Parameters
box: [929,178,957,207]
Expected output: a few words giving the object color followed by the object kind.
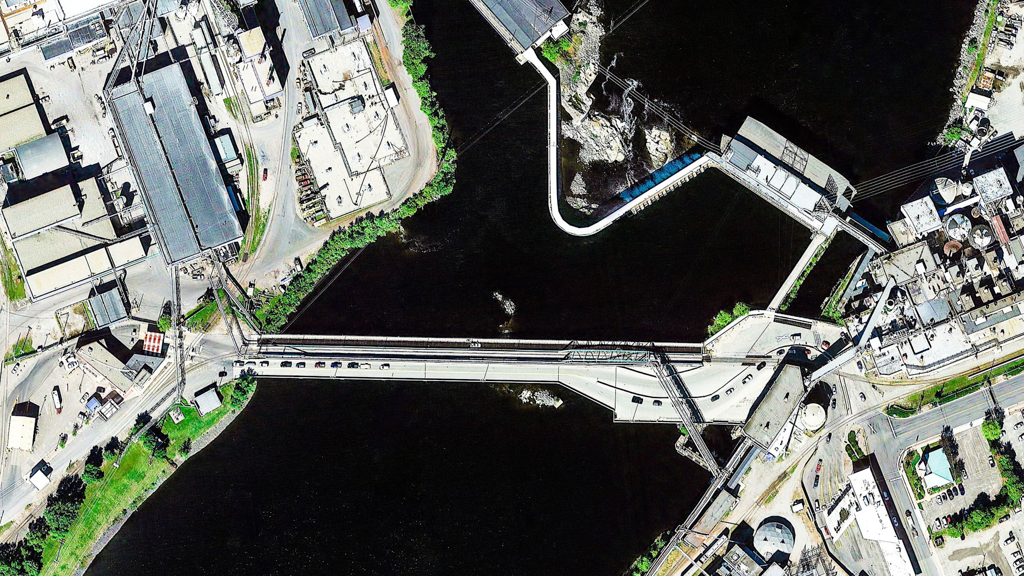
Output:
white storage tank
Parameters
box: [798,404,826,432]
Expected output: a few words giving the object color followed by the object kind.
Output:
white storage tank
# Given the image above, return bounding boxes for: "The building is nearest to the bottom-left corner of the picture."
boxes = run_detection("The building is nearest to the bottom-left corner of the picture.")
[8,415,36,451]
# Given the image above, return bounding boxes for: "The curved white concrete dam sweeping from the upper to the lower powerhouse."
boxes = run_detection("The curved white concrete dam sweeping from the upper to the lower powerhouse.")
[520,48,715,238]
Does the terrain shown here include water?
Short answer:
Yes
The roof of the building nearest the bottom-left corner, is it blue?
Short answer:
No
